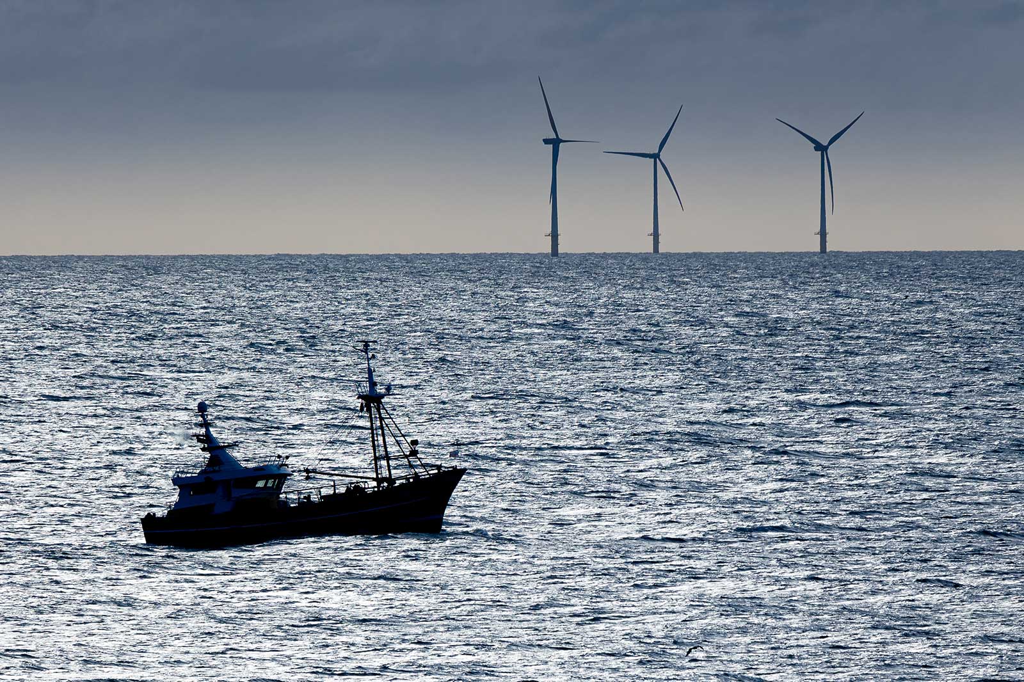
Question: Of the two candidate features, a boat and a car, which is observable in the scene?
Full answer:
Visible in the photo is a boat.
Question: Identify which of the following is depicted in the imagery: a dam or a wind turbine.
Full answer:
It is a wind turbine that can be seen here.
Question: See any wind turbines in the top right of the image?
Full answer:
Yes, looking in the top right of the image, one can make out a wind turbine.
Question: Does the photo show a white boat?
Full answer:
No, there's no white boat here.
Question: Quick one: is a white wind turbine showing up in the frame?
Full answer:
No, I can't see a single white wind turbine in this photo.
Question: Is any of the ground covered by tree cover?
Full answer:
No, there is no tree cover in the image.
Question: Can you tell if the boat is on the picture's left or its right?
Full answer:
You can find the boat on the left side of the picture.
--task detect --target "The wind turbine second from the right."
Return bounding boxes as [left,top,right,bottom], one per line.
[604,105,685,253]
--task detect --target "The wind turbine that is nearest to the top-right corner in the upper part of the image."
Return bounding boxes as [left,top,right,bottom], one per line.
[776,111,864,253]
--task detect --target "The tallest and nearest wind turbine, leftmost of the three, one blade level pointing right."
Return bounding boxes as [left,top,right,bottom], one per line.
[538,75,598,256]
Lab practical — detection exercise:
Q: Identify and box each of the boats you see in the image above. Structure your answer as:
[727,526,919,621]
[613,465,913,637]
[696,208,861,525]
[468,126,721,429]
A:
[141,341,467,542]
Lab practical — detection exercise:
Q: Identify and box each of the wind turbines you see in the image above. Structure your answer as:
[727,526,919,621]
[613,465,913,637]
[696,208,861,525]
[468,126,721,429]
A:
[604,105,685,253]
[776,111,864,253]
[538,75,598,256]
